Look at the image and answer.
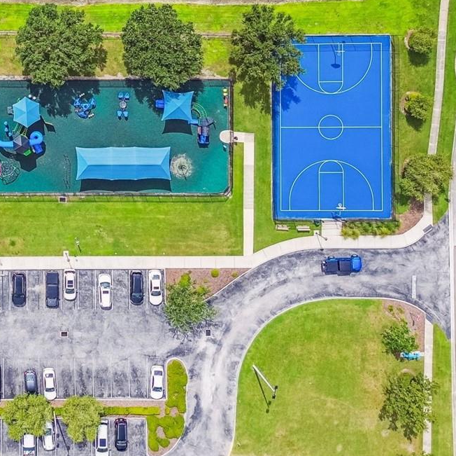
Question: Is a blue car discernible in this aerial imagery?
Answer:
Yes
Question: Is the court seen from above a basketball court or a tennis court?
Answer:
basketball court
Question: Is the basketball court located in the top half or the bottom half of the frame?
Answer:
top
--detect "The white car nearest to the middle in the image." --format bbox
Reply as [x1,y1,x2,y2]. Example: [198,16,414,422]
[149,269,164,303]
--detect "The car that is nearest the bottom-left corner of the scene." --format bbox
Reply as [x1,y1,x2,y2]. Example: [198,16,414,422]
[22,436,37,456]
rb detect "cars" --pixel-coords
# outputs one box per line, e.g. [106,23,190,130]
[150,365,165,397]
[22,436,37,456]
[43,367,57,399]
[23,369,38,398]
[97,274,113,308]
[129,271,145,304]
[114,418,129,449]
[11,272,26,306]
[62,269,78,300]
[42,419,57,449]
[95,421,110,456]
[149,269,164,303]
[320,256,360,273]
